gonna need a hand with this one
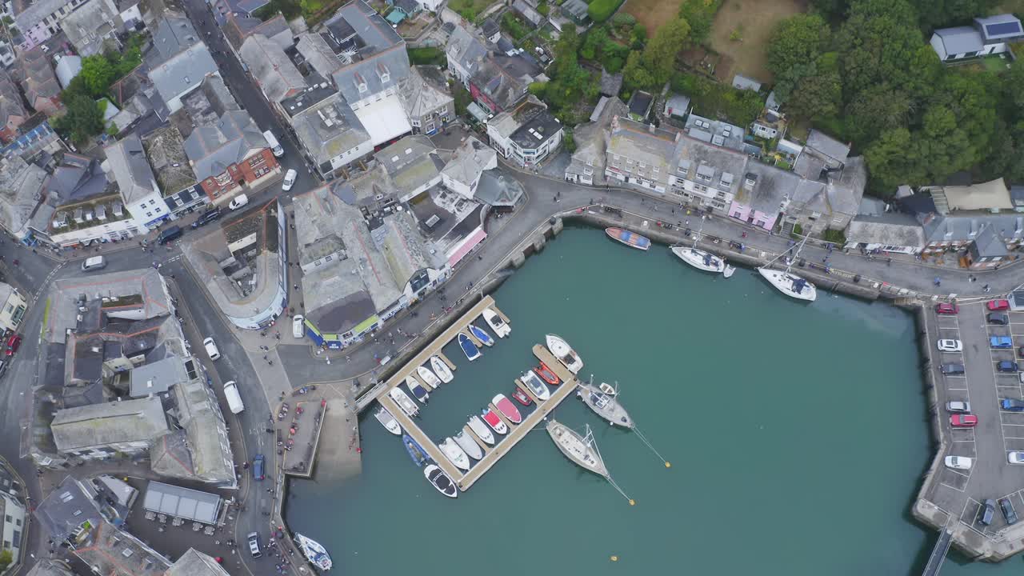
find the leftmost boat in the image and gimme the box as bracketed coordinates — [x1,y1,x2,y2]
[290,532,335,572]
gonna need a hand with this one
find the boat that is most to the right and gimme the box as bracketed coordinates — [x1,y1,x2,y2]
[761,242,818,303]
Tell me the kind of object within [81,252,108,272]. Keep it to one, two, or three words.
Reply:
vehicle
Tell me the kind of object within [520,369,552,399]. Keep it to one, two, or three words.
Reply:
boat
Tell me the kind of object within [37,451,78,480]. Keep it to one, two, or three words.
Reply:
shed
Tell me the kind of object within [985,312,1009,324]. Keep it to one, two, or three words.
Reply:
vehicle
